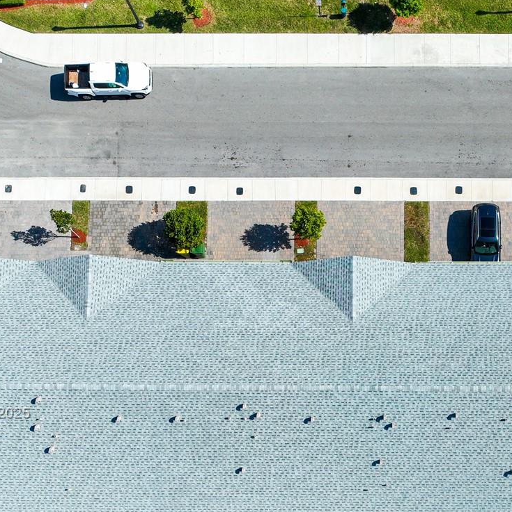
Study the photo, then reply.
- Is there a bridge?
No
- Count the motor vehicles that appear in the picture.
2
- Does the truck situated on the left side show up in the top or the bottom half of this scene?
top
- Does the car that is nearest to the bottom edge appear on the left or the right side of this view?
right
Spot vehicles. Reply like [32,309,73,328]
[469,209,504,260]
[63,60,154,100]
